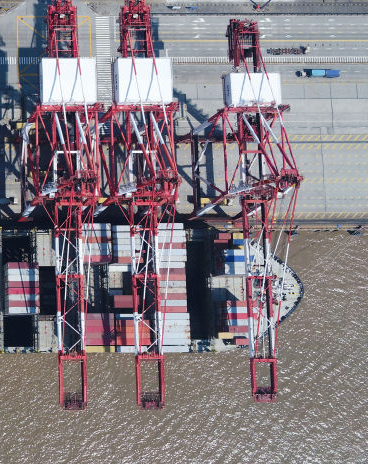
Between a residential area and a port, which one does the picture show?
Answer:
port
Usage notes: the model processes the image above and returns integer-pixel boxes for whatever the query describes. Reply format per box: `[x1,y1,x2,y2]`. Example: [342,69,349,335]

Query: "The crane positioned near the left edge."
[8,0,109,414]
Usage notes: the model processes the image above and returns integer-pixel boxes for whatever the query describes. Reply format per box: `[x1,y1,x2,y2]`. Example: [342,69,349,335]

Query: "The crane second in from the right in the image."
[77,0,184,414]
